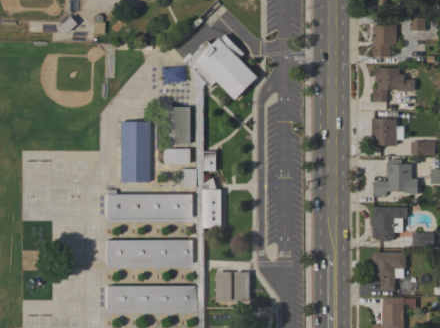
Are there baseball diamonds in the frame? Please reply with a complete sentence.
Yes, there's a baseball diamond here.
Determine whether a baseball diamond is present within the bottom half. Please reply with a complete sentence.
No, the scene shows no baseball diamond within the bottom half.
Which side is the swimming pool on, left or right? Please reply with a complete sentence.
The swimming pool is on the right side of the image.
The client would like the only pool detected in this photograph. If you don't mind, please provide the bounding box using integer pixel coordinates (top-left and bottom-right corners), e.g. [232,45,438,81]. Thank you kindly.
[408,210,438,232]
